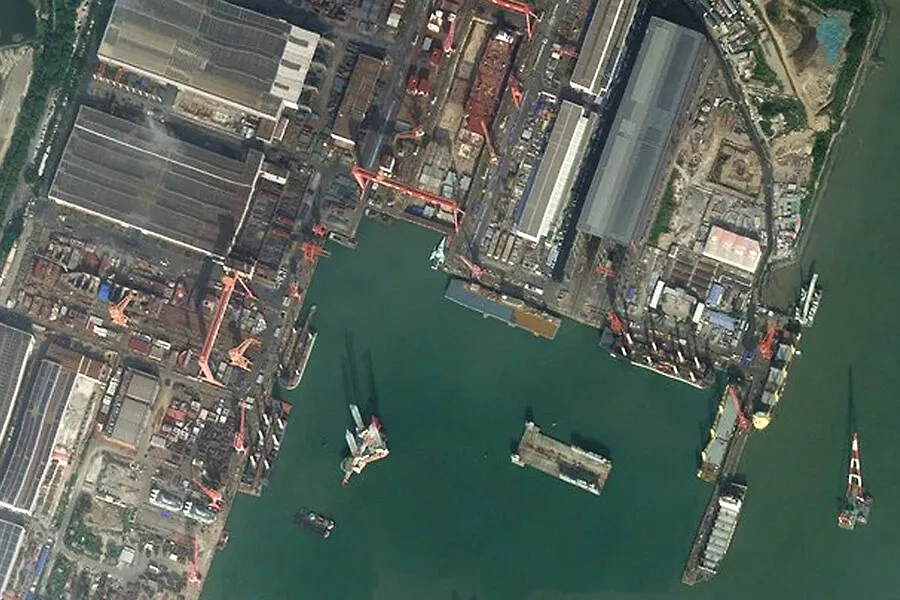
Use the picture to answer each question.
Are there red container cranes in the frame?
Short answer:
Yes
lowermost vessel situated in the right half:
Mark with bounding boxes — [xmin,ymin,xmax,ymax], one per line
[693,484,747,585]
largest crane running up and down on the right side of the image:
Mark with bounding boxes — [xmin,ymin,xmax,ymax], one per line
[838,429,871,531]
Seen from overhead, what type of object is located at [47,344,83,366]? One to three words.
shed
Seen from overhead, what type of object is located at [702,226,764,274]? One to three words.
building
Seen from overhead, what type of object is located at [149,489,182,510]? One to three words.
boat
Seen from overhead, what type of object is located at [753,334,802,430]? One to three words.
ship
